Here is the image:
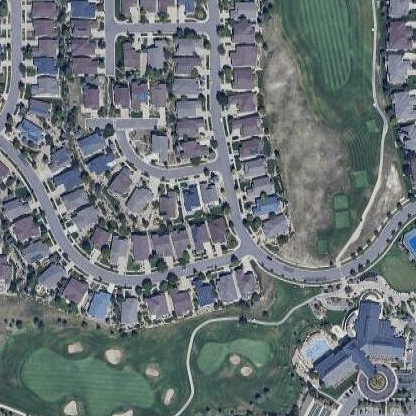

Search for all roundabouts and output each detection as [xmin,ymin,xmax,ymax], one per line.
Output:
[356,361,397,402]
